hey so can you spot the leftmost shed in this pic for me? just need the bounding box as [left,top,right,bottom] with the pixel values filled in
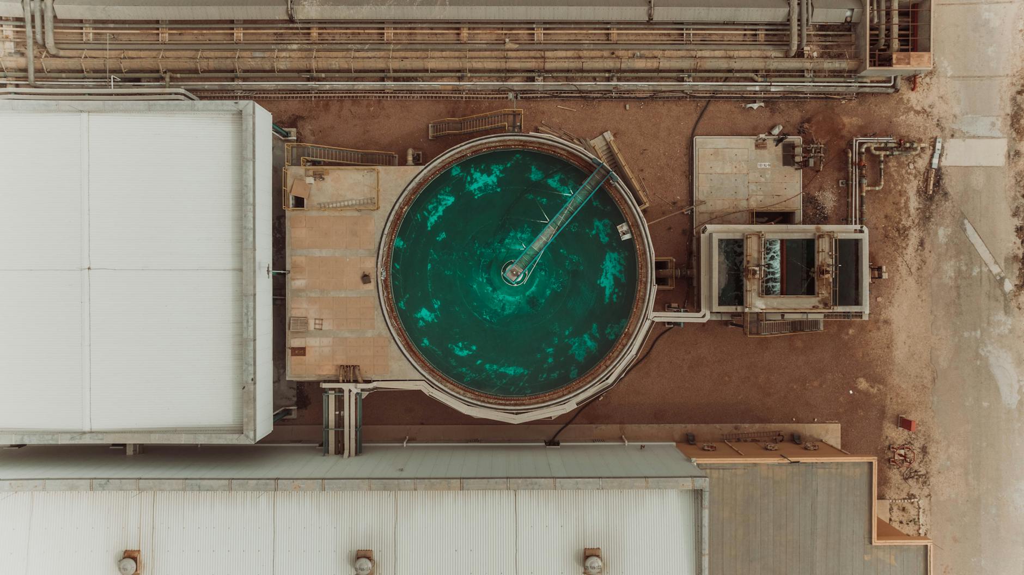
[0,100,297,443]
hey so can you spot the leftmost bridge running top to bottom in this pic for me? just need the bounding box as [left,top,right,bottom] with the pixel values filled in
[743,234,764,296]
